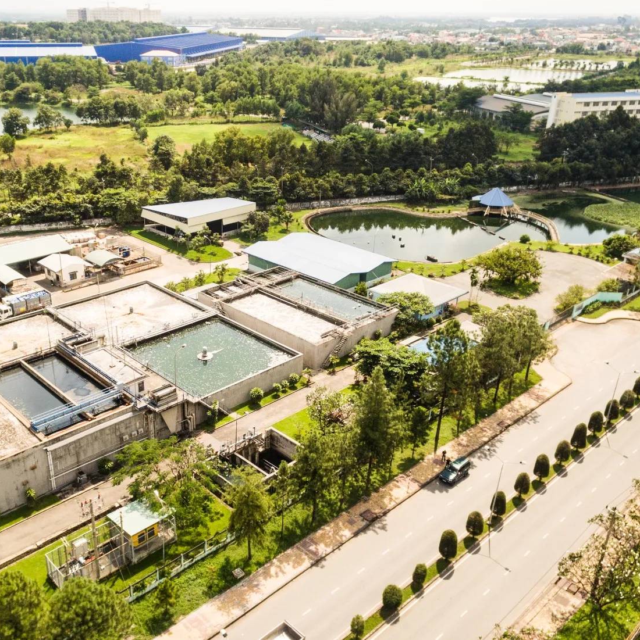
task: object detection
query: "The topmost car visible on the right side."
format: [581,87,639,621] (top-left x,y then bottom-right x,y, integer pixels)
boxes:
[443,457,477,485]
